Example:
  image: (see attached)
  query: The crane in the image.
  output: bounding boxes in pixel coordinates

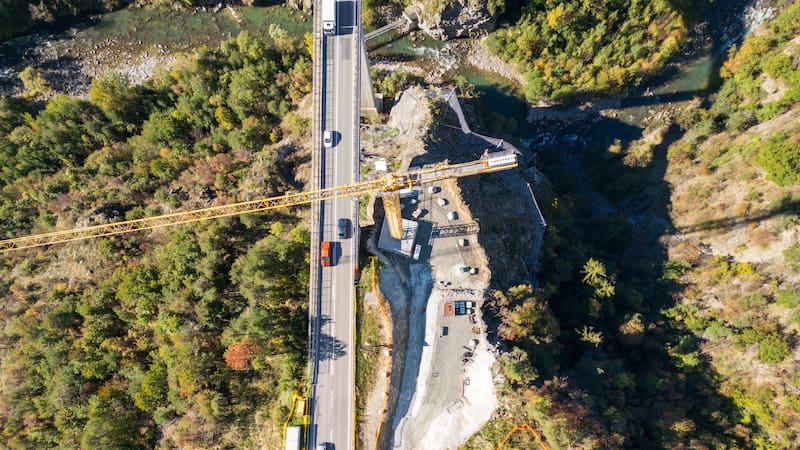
[0,152,520,252]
